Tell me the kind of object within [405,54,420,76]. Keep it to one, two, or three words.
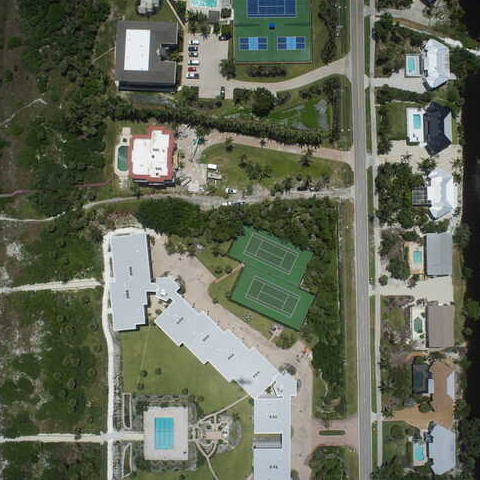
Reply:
swimming pool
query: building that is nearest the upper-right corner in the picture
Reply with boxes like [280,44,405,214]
[423,39,450,88]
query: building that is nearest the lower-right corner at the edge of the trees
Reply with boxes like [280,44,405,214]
[429,423,456,474]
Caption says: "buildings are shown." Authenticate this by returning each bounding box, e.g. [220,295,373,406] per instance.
[426,358,454,411]
[426,169,457,219]
[115,21,178,88]
[129,127,177,182]
[426,233,452,276]
[423,39,450,88]
[423,102,452,156]
[111,234,297,480]
[137,0,158,13]
[429,423,456,474]
[426,306,454,348]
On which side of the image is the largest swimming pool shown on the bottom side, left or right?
left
